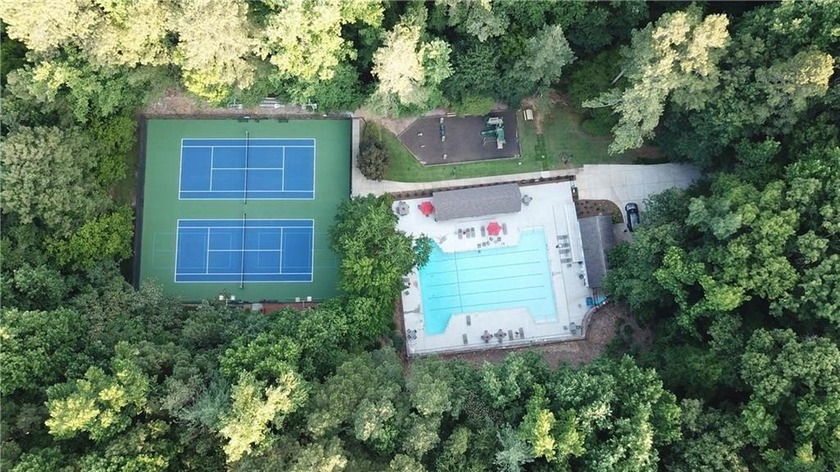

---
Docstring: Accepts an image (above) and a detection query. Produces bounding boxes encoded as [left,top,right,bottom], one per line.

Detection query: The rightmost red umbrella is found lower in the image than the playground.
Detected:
[488,220,502,234]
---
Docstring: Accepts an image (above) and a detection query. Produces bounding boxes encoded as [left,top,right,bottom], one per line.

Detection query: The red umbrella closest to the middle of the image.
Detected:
[420,200,434,214]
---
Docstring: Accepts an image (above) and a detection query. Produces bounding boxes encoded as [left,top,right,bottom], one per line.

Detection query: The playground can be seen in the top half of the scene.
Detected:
[395,108,522,166]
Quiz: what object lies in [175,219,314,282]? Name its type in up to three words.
tennis court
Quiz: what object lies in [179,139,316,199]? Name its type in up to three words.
tennis court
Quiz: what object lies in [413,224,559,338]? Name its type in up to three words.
swimming pool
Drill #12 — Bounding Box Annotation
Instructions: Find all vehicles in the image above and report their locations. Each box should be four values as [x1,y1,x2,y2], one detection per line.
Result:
[624,204,640,231]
